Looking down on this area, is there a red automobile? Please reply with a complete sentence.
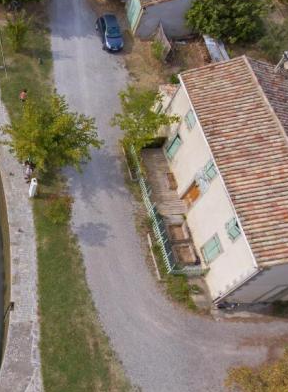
No, the picture doesn't show any red automobile.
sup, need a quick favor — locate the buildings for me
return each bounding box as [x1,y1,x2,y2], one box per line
[120,0,213,36]
[153,55,288,302]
